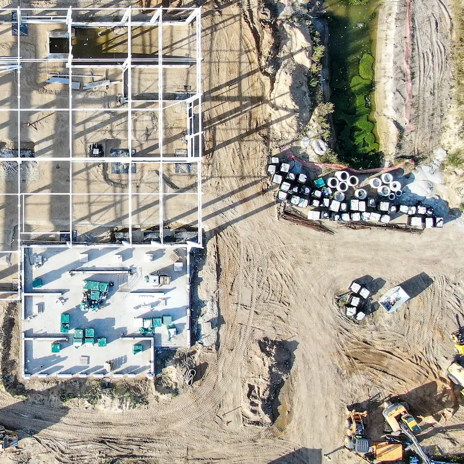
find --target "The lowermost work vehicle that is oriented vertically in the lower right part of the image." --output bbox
[343,405,372,464]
